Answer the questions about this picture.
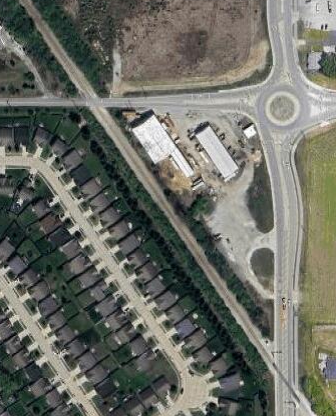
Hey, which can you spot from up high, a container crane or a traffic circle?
traffic circle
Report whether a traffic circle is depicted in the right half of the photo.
Yes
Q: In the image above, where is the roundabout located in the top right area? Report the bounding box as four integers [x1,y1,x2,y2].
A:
[220,61,327,158]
